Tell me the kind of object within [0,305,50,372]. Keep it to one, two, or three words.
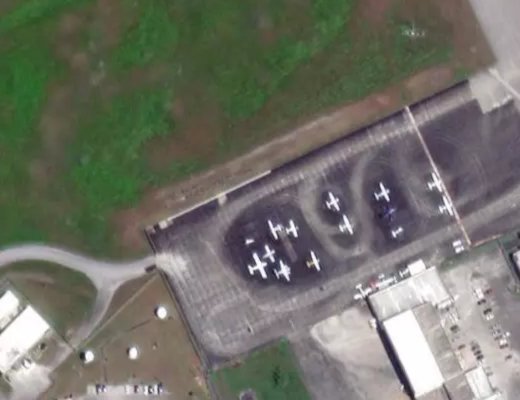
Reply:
building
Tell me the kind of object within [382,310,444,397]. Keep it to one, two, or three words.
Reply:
hangar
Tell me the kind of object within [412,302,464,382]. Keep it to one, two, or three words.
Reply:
building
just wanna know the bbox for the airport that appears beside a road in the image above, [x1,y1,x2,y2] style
[147,0,520,400]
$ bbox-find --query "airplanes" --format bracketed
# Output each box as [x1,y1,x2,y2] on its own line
[427,173,442,191]
[377,273,394,286]
[324,192,339,211]
[273,260,291,280]
[437,195,452,215]
[268,220,283,238]
[379,203,393,219]
[261,244,274,262]
[247,252,267,278]
[354,283,371,297]
[375,182,389,201]
[284,219,298,237]
[305,250,320,270]
[337,214,353,234]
